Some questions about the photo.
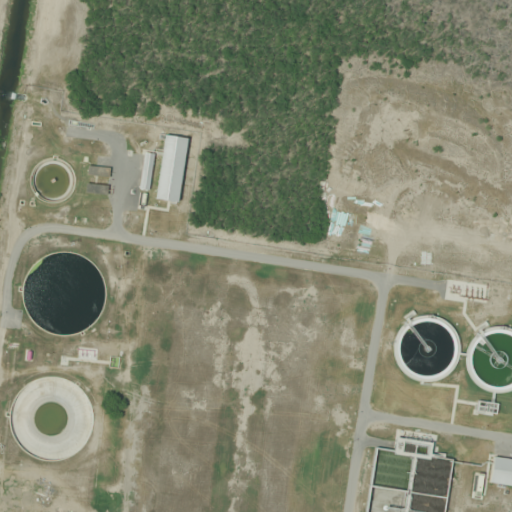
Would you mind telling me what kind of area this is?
industrial area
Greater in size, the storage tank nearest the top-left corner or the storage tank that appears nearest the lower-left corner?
the storage tank that appears nearest the lower-left corner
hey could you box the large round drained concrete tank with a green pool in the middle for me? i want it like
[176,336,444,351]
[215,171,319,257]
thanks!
[6,375,96,462]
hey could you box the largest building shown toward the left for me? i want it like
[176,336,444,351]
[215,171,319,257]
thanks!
[157,134,189,202]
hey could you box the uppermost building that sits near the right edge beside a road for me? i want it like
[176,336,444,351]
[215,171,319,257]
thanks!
[445,280,490,303]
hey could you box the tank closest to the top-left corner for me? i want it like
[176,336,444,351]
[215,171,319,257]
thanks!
[29,155,76,204]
